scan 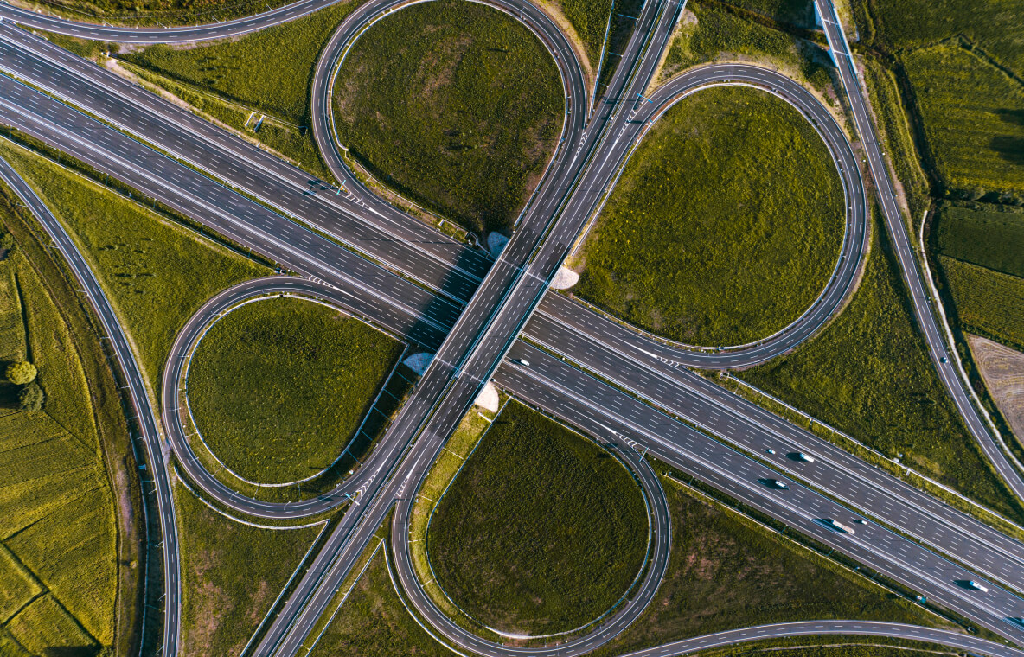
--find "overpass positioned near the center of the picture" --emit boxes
[424,237,561,405]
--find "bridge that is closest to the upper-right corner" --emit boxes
[811,0,856,74]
